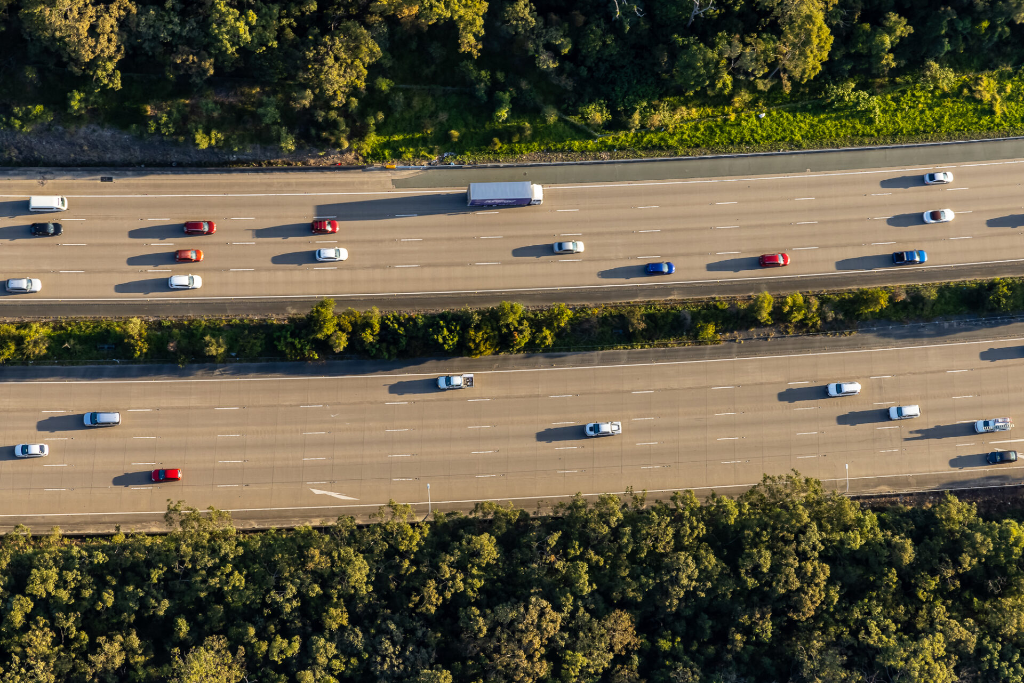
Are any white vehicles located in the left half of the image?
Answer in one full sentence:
Yes, a white vehicle appears in the left half of the image.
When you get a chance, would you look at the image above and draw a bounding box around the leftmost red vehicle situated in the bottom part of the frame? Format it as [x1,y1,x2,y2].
[152,468,182,482]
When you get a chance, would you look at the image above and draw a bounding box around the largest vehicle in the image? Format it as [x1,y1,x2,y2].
[467,182,541,207]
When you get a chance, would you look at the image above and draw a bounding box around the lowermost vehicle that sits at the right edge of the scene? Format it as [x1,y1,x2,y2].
[986,450,1018,465]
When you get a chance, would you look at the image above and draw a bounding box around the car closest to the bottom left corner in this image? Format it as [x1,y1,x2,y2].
[15,443,49,458]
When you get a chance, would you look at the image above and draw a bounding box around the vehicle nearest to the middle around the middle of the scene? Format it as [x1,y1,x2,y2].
[437,374,474,390]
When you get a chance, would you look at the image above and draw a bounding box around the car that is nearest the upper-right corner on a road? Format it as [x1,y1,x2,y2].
[923,171,954,186]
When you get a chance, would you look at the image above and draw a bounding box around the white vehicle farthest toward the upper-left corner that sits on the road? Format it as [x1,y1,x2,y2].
[29,196,68,213]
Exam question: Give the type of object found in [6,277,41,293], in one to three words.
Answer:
car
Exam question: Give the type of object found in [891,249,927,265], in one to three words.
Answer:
vehicle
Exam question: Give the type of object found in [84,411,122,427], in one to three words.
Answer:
car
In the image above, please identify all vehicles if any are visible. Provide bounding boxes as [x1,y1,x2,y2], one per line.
[29,196,68,213]
[15,443,49,458]
[316,247,348,262]
[152,468,182,482]
[437,374,474,390]
[986,450,1018,465]
[974,417,1012,434]
[644,261,675,276]
[923,171,954,186]
[584,422,622,437]
[184,220,216,235]
[825,382,861,397]
[759,252,790,268]
[31,222,63,237]
[311,219,339,234]
[553,240,584,255]
[887,405,922,421]
[169,274,202,289]
[467,182,541,207]
[84,411,122,427]
[175,248,204,263]
[6,277,41,293]
[922,209,954,224]
[891,249,927,265]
